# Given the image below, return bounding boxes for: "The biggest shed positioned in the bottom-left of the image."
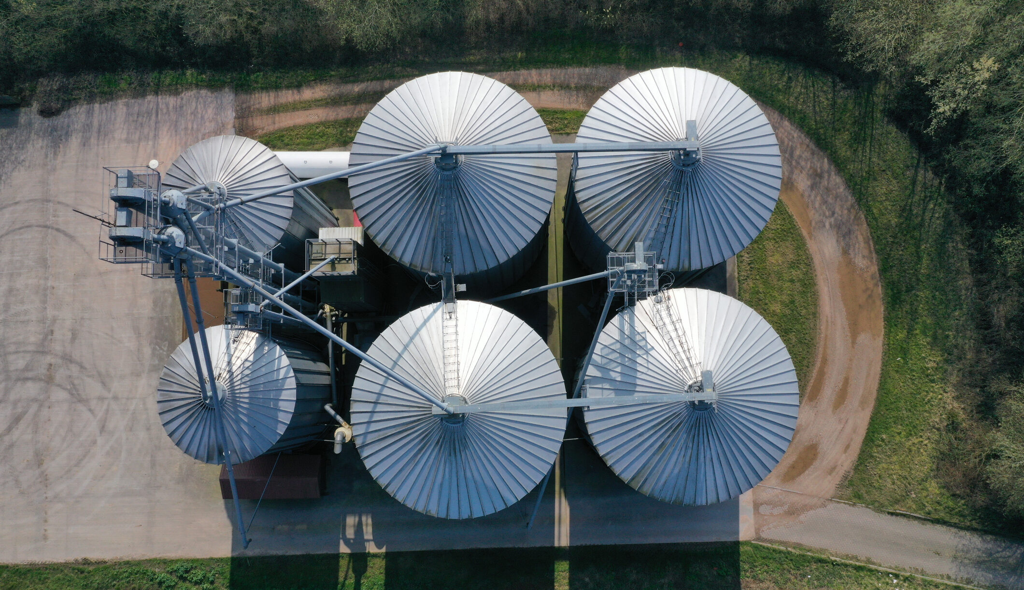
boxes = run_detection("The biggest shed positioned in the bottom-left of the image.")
[216,448,329,499]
